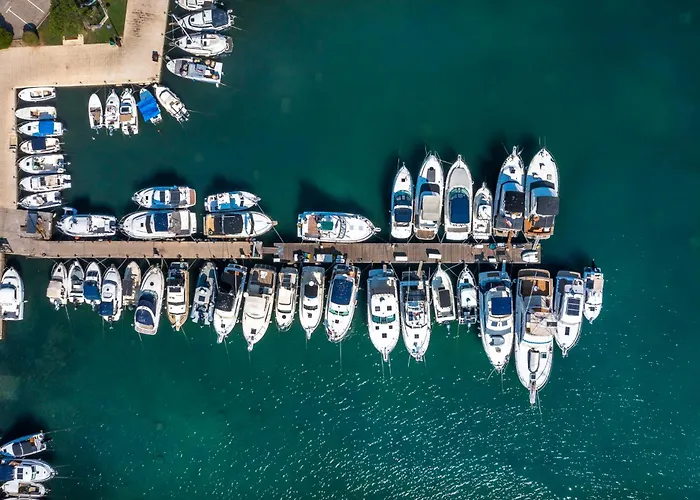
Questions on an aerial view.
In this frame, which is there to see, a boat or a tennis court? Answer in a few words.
boat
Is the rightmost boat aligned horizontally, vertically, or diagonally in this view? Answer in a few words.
vertically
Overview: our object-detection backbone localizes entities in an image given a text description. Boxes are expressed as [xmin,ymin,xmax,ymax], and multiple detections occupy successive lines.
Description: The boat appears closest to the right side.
[582,260,605,322]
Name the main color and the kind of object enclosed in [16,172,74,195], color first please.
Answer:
white boat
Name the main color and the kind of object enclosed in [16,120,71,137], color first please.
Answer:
white boat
